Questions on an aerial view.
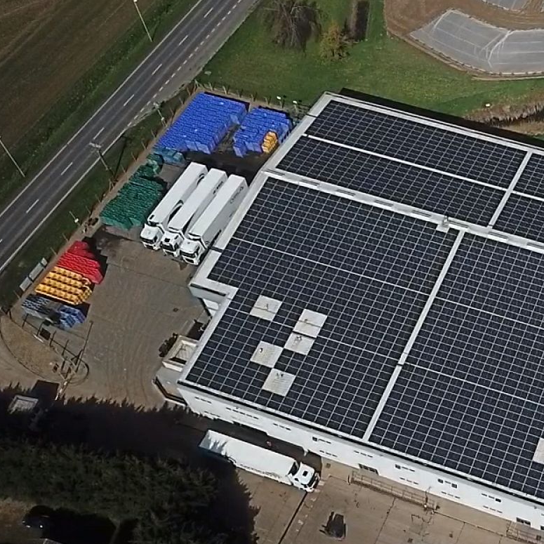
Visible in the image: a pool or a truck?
truck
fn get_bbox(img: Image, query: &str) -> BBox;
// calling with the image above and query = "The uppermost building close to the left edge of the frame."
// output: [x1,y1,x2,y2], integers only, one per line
[5,392,50,424]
